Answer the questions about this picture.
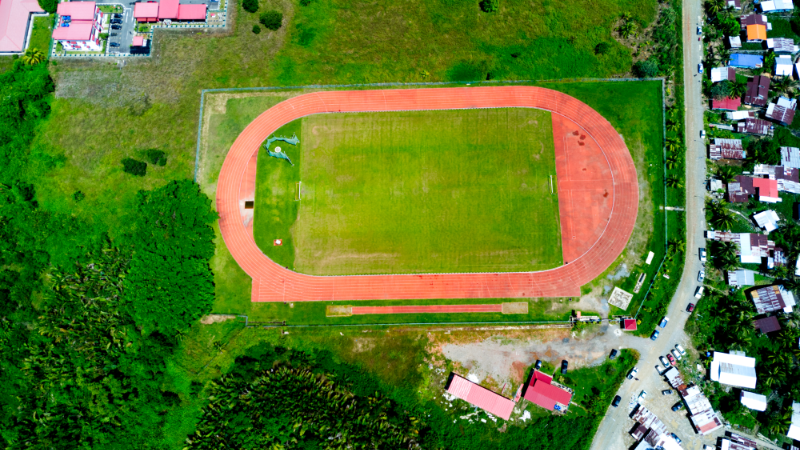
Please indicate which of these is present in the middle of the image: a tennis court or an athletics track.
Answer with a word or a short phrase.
athletics track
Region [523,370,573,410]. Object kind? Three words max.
house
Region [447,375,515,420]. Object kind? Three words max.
shed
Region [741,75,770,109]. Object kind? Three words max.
house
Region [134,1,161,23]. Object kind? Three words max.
building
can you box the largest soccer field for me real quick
[295,108,563,275]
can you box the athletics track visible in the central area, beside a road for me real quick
[216,86,639,302]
